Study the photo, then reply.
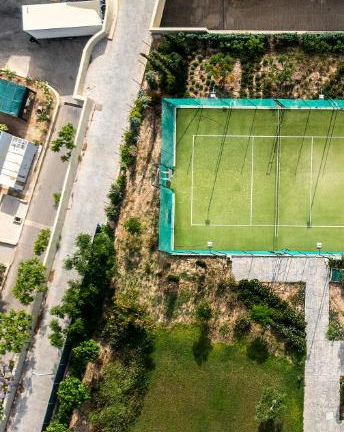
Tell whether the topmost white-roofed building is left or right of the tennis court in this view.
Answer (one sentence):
It is on the left side of the tennis court that the topmost white-roofed building is positioned.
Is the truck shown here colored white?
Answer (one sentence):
Yes, the truck is indeed white.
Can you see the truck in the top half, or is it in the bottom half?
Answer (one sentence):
The truck sits in the top half of the picture.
